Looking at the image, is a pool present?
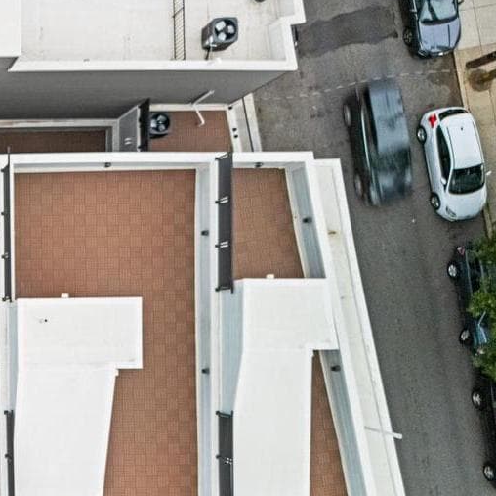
No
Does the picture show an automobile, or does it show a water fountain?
automobile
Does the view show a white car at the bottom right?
No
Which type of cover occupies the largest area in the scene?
buildings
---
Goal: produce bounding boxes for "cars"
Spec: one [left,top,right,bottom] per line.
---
[471,371,496,485]
[448,240,496,355]
[343,79,422,203]
[417,106,494,220]
[398,0,467,59]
